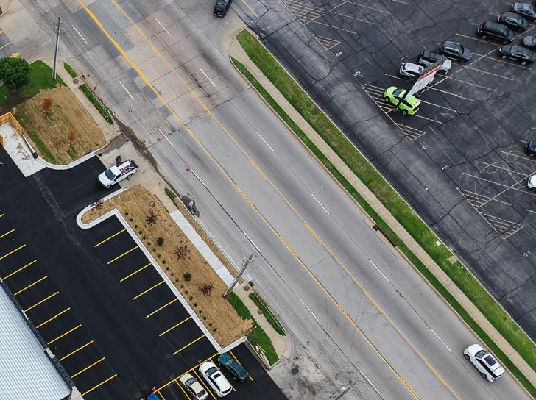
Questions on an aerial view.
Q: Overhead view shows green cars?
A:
Yes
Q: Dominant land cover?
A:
paved ground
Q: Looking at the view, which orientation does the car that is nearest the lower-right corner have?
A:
diagonally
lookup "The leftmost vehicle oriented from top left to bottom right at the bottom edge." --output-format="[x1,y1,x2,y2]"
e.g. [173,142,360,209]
[176,371,210,400]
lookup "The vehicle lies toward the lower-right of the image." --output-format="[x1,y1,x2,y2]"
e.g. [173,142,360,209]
[464,345,504,382]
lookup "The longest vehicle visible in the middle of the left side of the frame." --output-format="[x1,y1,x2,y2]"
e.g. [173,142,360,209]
[97,159,140,190]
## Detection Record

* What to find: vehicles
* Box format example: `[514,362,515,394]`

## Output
[520,36,536,51]
[437,39,473,63]
[524,138,536,155]
[510,1,536,24]
[198,362,232,398]
[146,391,163,400]
[383,90,421,114]
[398,59,426,77]
[495,8,530,33]
[176,371,210,400]
[464,345,504,382]
[476,20,514,47]
[527,175,536,191]
[499,45,536,66]
[97,159,140,190]
[215,351,252,386]
[214,0,231,17]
